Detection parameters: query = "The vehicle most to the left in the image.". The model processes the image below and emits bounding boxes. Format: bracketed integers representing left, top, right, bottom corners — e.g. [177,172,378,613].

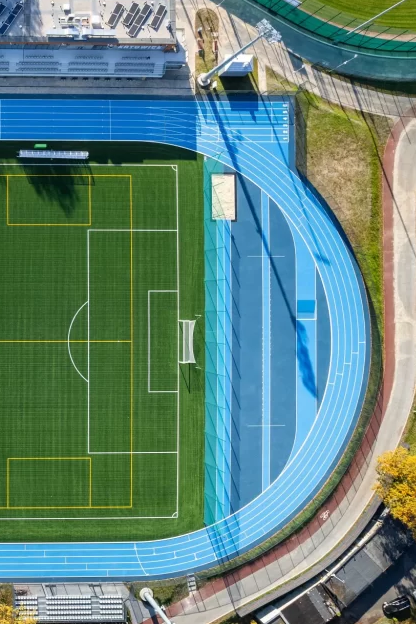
[380,596,410,613]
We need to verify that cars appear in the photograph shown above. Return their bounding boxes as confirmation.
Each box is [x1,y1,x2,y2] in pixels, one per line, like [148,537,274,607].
[411,587,416,599]
[380,596,410,613]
